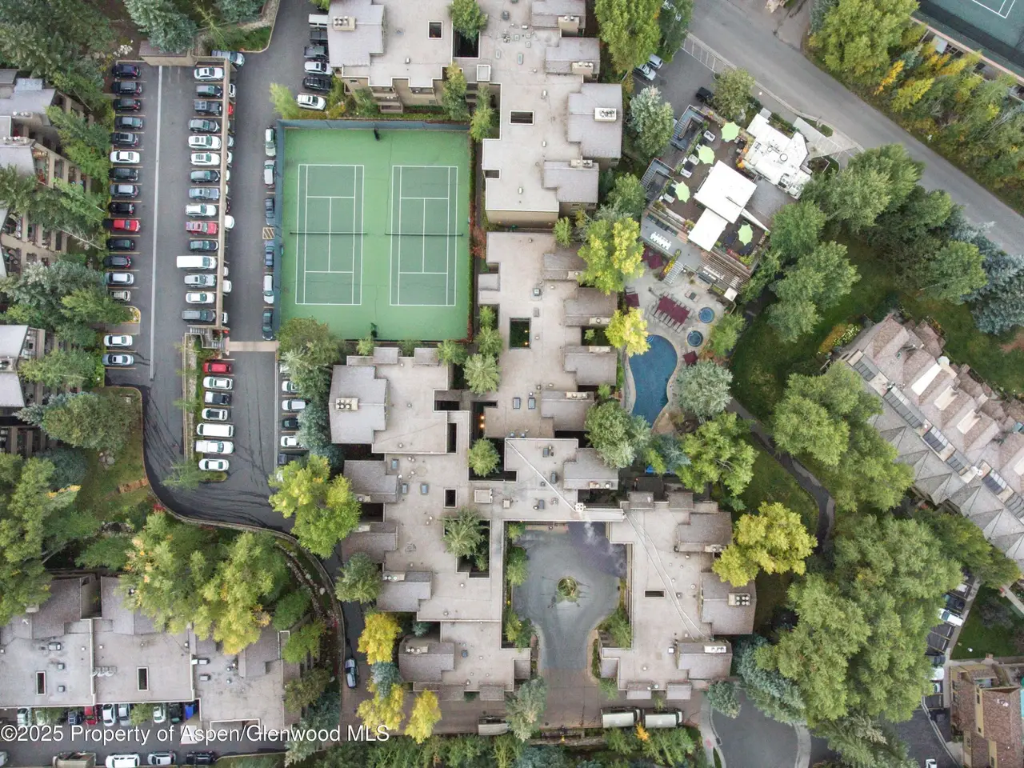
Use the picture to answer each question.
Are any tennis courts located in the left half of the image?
Yes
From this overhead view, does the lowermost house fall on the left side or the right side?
right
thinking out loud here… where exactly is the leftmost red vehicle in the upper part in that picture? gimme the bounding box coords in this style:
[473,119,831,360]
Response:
[104,217,142,233]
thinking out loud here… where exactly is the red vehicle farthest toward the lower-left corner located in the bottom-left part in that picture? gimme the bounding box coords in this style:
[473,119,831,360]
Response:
[84,705,100,728]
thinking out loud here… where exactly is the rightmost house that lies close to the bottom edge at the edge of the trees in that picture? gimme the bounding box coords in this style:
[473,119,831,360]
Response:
[945,655,1022,768]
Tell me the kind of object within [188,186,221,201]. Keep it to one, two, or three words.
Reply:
vehicle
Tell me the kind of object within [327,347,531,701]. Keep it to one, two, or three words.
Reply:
building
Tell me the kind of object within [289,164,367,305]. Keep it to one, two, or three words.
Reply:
tennis court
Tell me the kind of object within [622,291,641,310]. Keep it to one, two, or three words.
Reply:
umbrella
